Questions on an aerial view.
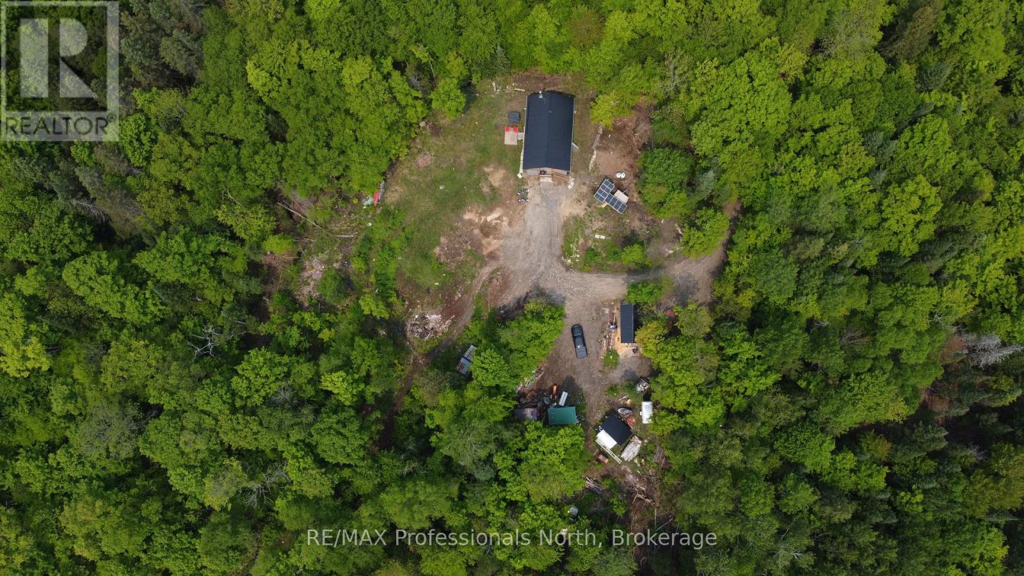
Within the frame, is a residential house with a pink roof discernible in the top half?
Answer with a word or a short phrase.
No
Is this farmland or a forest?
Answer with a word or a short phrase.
forest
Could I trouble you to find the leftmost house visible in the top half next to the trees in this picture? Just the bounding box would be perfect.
[521,91,578,172]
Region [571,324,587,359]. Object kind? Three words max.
vehicle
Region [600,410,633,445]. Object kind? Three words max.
shed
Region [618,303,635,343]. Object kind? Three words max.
shed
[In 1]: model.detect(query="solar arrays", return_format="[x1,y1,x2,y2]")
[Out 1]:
[595,180,614,202]
[605,194,627,213]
